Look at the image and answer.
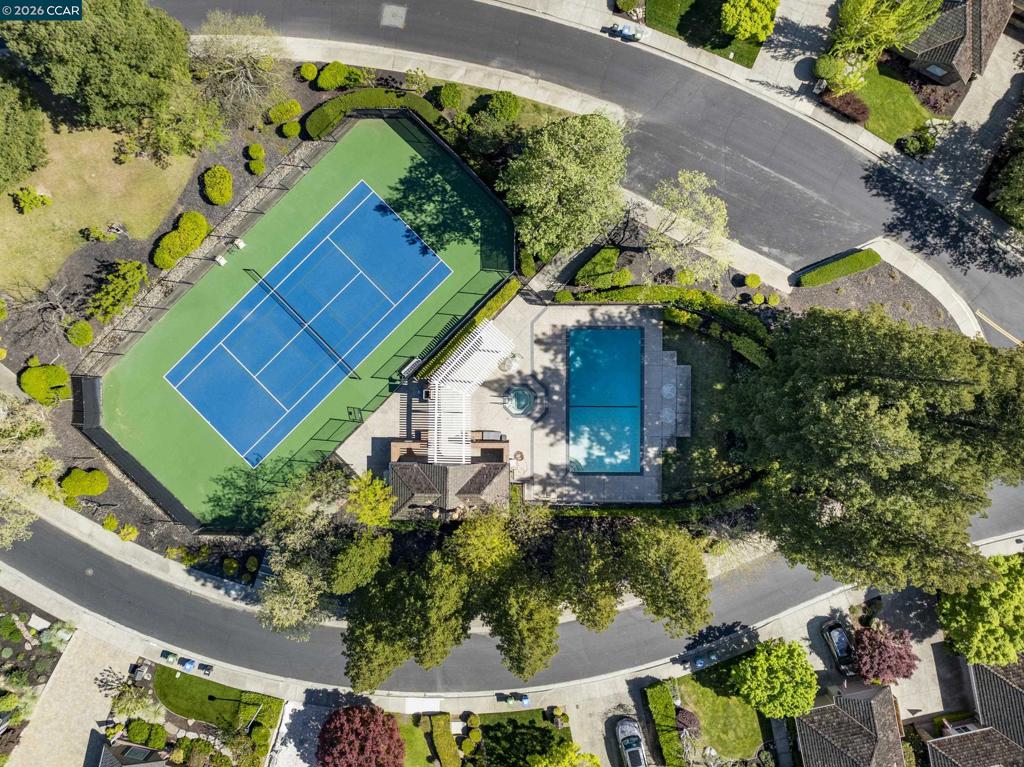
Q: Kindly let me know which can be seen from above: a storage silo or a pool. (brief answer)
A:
pool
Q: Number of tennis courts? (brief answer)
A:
1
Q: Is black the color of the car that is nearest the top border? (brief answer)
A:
Yes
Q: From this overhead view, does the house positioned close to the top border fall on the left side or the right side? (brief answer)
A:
right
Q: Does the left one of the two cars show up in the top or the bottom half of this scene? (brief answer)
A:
bottom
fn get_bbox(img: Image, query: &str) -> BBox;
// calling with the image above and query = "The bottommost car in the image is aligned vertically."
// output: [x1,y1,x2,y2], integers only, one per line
[618,714,649,767]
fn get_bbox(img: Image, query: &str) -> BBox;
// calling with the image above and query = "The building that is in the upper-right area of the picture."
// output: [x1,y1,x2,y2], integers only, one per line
[904,0,1018,85]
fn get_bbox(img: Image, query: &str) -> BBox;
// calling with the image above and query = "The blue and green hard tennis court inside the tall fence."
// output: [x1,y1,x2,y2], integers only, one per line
[100,119,514,527]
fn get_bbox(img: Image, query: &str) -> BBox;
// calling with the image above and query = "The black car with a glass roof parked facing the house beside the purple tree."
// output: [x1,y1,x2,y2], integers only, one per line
[818,617,857,677]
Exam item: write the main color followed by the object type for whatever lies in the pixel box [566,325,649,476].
blue swimming pool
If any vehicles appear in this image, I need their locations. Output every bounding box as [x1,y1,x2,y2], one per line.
[618,714,649,767]
[818,617,857,677]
